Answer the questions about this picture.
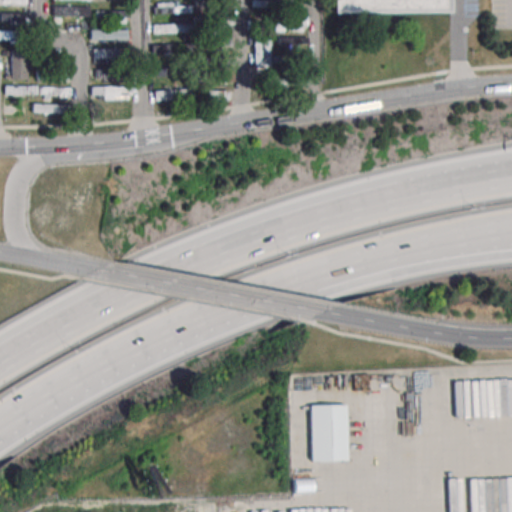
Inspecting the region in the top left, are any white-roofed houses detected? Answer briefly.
Yes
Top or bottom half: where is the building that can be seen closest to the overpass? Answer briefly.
bottom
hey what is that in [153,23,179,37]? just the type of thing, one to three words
house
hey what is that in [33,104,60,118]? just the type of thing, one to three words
house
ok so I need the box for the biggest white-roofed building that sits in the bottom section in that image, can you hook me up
[310,404,349,462]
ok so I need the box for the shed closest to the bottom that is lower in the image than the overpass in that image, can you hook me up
[294,478,317,493]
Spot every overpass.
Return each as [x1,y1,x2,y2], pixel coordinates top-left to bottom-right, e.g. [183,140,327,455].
[80,256,336,324]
